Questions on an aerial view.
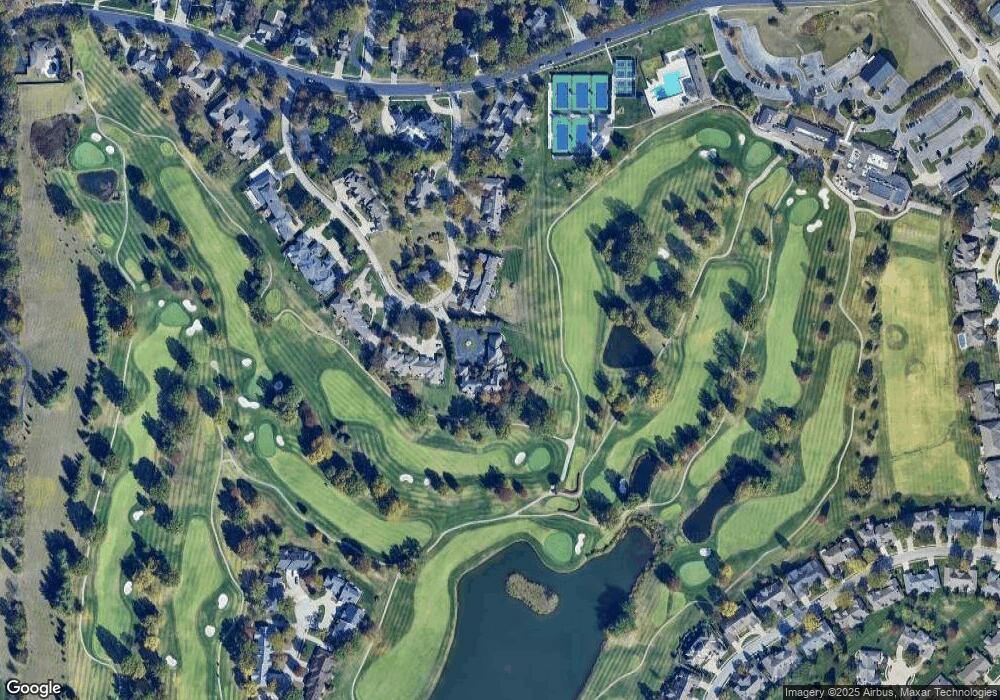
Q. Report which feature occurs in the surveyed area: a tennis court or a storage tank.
tennis court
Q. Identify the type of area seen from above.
golf course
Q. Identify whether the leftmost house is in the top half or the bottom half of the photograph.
top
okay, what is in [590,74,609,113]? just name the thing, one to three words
tennis court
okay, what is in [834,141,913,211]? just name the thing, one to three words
building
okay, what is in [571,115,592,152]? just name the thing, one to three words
tennis court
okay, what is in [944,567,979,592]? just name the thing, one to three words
house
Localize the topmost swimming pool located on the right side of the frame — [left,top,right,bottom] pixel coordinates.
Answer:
[646,49,700,116]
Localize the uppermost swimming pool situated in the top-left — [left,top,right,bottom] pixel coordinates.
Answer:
[45,60,60,77]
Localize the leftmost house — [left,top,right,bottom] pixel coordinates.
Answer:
[8,42,57,72]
